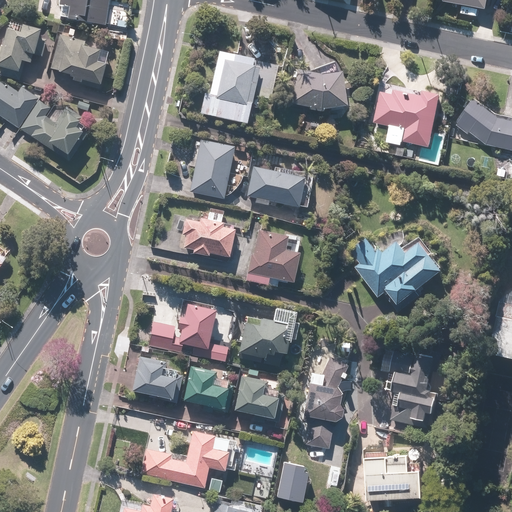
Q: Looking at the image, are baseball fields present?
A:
No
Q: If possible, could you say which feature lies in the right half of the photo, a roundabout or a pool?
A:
pool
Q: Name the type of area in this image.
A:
residential area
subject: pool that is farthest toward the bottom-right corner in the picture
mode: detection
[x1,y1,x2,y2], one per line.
[245,446,273,466]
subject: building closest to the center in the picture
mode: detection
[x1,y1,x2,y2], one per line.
[246,228,302,287]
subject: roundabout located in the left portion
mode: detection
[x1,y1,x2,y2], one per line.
[82,228,110,256]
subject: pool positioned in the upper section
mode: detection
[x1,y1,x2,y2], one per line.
[420,132,442,162]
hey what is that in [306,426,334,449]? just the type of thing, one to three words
building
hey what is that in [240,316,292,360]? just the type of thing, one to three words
house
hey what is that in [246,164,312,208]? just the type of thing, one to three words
house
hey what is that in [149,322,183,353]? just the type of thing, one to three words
building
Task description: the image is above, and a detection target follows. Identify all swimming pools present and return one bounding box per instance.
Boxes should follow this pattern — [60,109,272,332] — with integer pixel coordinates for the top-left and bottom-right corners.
[245,446,273,466]
[420,132,442,162]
